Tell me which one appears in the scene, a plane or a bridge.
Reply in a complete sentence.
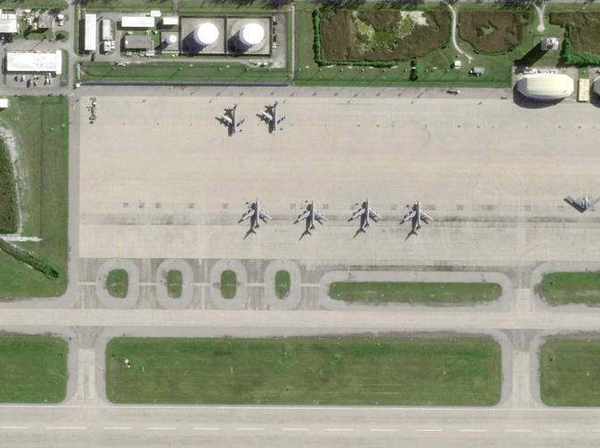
Visible in the photo is a plane.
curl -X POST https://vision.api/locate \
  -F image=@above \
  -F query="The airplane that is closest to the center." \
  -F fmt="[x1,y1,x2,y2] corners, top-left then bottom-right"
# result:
[299,201,326,228]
